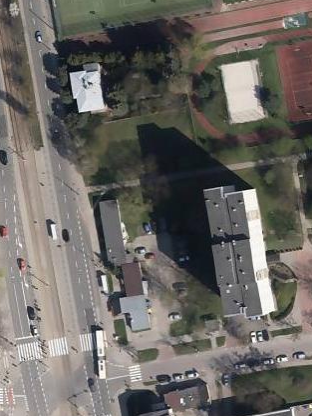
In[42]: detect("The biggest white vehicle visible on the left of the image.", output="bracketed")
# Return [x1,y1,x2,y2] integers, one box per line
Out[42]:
[96,329,109,379]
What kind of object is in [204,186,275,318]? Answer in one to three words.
building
